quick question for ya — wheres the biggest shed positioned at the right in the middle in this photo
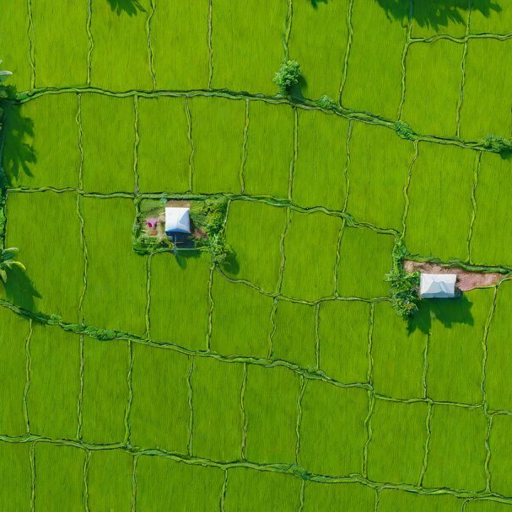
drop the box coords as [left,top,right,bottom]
[417,274,456,300]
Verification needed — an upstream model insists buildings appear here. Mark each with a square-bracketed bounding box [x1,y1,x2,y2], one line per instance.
[165,208,191,236]
[417,274,456,300]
